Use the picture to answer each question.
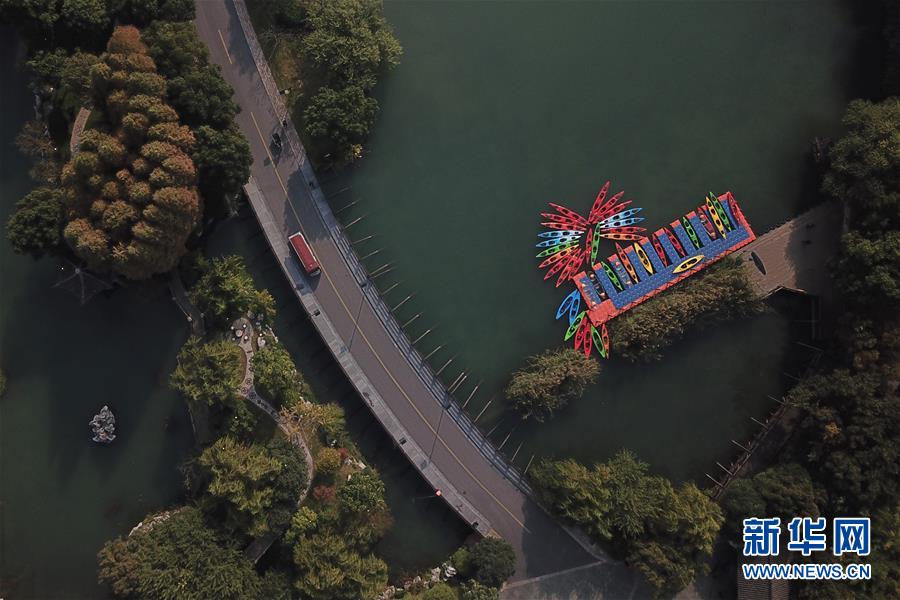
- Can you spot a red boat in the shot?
Yes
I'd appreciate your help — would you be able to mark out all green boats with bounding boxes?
[710,192,731,232]
[601,262,622,291]
[592,223,601,265]
[536,241,579,257]
[684,217,700,249]
[565,311,586,340]
[592,324,605,358]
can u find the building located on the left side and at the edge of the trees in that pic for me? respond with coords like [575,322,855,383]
[51,241,113,306]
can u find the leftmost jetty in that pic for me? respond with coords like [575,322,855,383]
[570,191,757,327]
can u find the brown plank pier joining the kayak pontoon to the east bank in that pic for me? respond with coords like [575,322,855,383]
[741,199,848,300]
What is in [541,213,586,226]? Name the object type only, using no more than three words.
boat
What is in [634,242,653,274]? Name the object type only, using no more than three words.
boat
